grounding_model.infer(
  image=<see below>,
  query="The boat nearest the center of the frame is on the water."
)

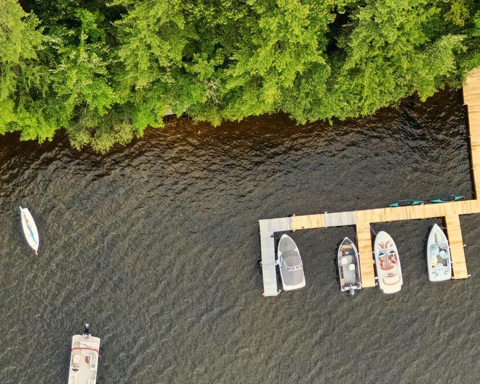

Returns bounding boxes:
[278,234,307,291]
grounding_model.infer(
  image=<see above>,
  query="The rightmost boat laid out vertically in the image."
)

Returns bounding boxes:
[424,223,452,282]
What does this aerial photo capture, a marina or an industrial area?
marina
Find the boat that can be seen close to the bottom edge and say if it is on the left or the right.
left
